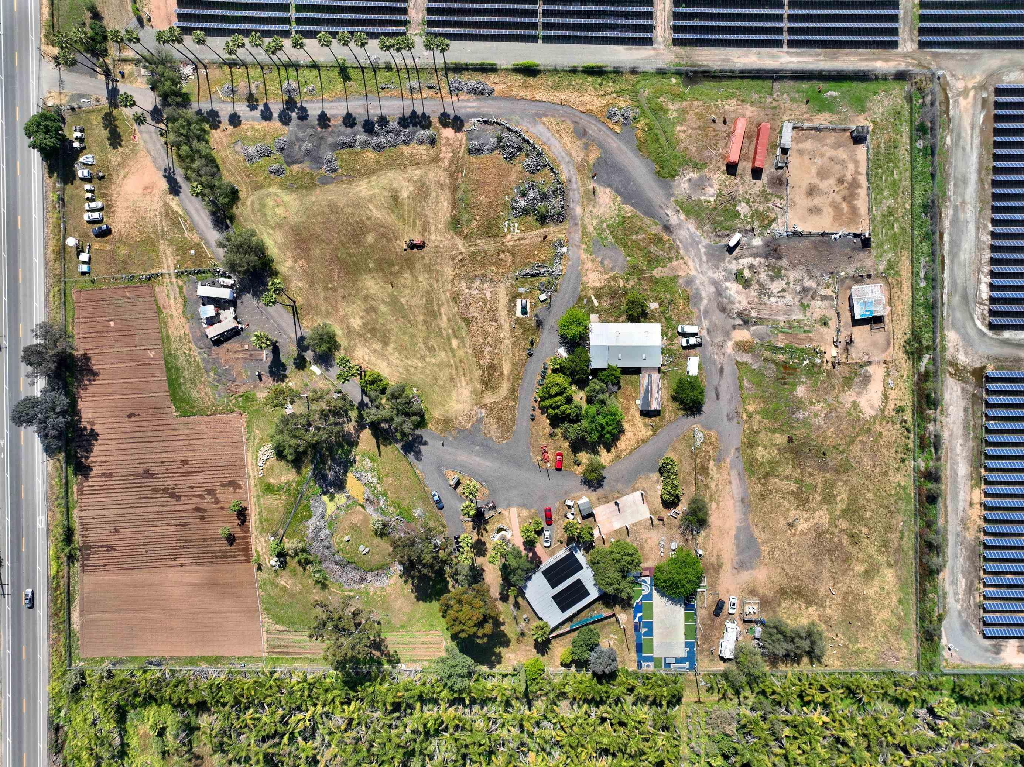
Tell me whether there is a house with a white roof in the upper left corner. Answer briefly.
No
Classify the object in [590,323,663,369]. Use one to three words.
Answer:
house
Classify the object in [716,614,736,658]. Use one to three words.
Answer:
camper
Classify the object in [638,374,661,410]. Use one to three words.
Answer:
building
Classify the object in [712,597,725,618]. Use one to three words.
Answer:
vehicle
